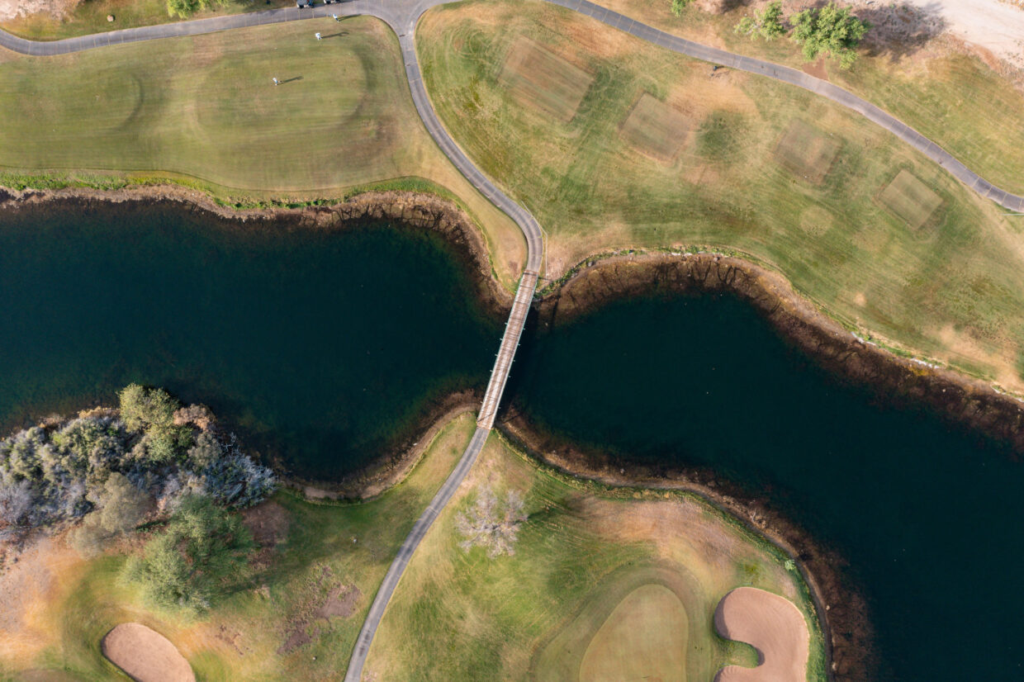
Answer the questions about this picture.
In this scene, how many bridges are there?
one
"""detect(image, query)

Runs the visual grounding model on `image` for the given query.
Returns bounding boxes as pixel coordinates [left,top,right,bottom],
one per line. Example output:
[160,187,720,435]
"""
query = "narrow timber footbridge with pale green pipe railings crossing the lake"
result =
[476,269,540,432]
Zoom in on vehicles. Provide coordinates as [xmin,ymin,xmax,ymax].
[324,0,339,5]
[295,0,311,10]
